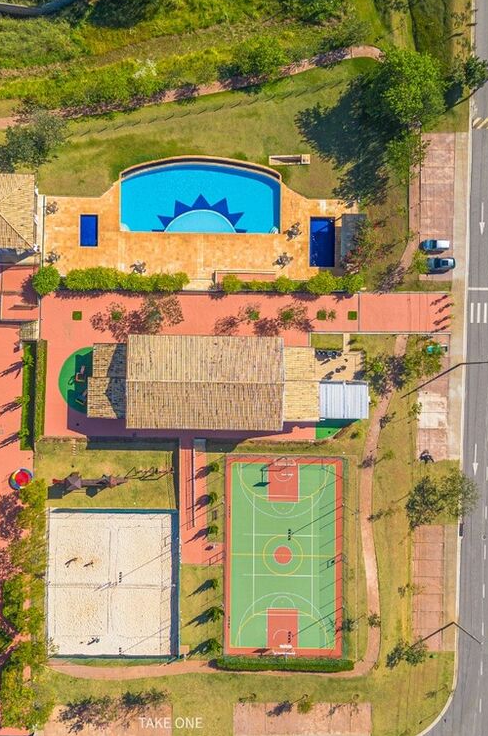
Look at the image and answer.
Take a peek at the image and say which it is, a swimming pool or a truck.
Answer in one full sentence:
The one in the frame is a swimming pool.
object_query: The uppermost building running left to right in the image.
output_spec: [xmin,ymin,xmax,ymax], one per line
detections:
[87,335,319,430]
